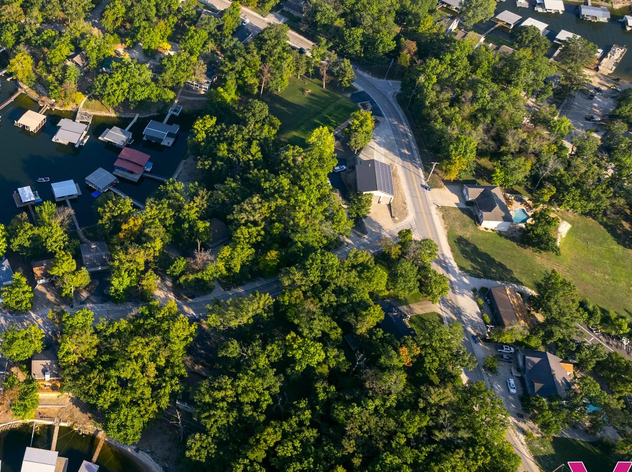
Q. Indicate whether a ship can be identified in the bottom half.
No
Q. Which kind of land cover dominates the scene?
trees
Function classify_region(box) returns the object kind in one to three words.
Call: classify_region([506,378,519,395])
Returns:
vehicle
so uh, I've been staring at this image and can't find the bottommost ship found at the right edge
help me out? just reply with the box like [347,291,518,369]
[596,45,626,76]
